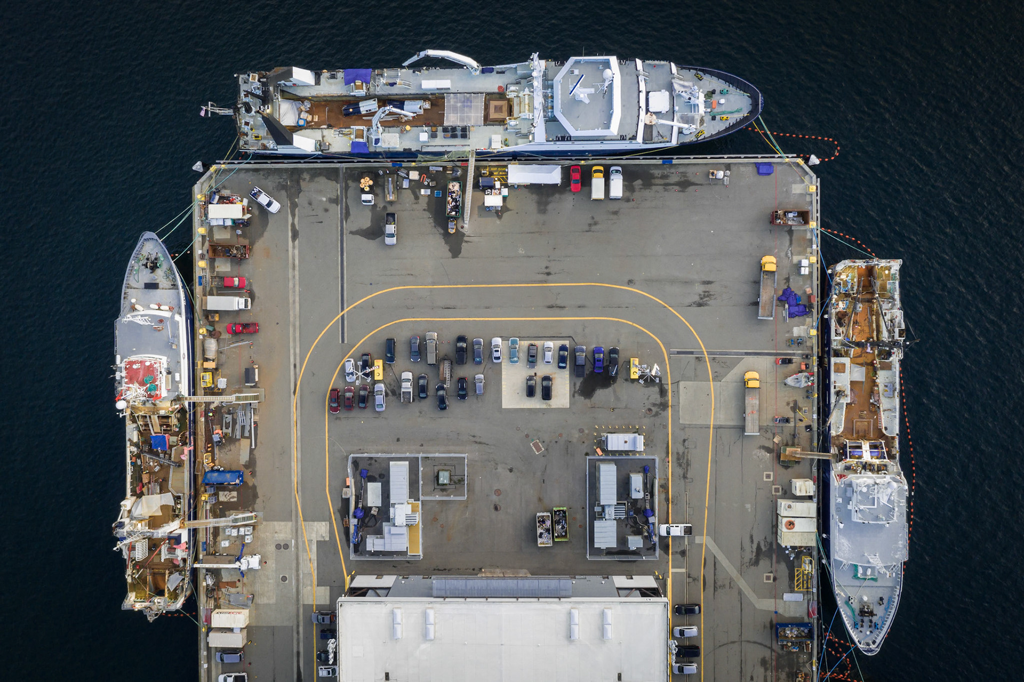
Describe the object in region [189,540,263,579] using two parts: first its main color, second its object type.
white truck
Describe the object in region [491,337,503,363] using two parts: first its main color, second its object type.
white vehicle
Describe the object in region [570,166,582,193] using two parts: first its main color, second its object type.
red vehicle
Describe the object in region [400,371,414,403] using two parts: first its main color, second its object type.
white vehicle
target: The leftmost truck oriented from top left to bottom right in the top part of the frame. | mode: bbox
[248,186,282,214]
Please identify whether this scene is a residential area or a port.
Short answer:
port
